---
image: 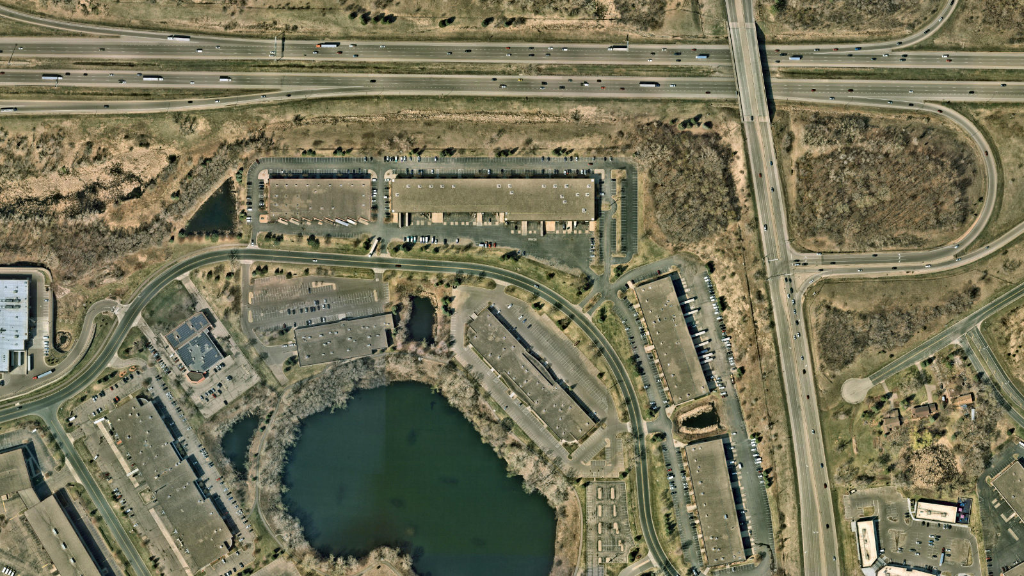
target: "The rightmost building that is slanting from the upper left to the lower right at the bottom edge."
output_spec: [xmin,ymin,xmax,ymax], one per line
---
[93,398,232,568]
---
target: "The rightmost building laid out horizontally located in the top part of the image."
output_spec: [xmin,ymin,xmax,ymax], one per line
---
[392,178,595,221]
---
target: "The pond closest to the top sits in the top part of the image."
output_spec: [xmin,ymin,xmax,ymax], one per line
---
[185,181,236,235]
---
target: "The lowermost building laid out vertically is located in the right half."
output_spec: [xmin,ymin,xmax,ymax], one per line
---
[857,520,879,567]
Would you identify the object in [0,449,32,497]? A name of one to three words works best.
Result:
building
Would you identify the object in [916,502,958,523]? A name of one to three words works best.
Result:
building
